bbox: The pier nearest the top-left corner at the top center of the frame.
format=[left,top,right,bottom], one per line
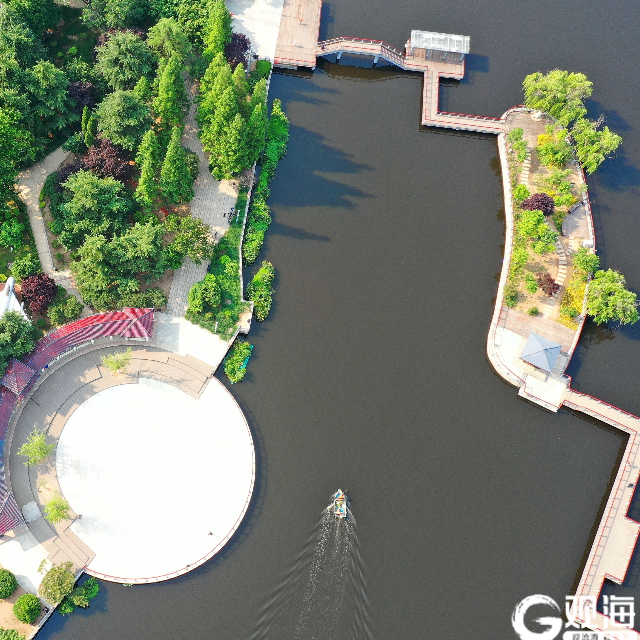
[274,0,322,71]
